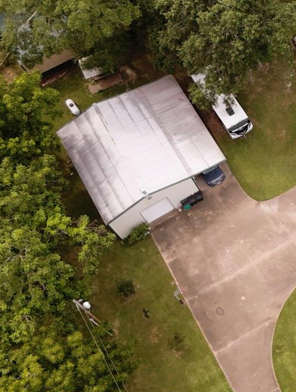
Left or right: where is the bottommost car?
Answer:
right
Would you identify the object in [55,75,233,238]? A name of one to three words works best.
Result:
building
